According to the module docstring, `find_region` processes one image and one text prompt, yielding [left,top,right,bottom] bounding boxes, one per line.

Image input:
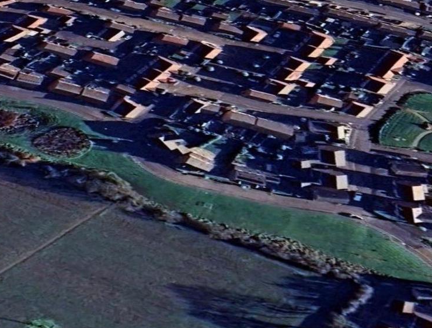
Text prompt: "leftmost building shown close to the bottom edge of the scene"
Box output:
[389,302,415,320]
